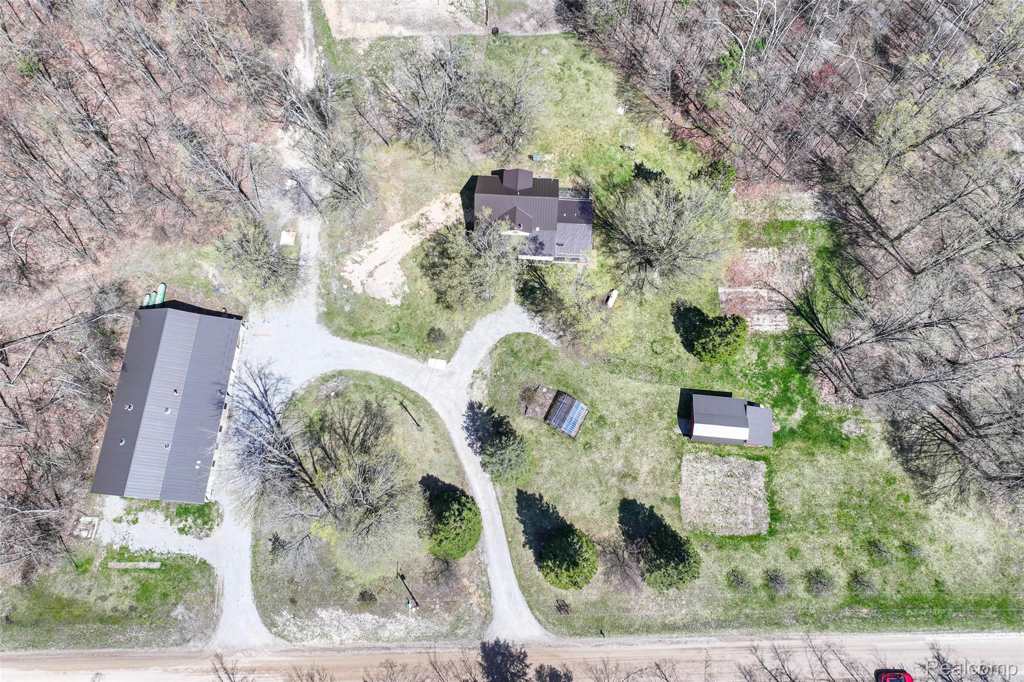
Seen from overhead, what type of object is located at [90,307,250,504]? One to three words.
barn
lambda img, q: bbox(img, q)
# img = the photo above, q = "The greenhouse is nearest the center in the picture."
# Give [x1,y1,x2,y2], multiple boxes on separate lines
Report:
[543,391,592,439]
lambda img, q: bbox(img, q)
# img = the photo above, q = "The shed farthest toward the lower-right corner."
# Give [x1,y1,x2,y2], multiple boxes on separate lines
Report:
[679,397,769,448]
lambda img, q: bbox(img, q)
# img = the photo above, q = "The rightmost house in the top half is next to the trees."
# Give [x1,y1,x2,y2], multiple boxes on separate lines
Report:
[473,164,592,272]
